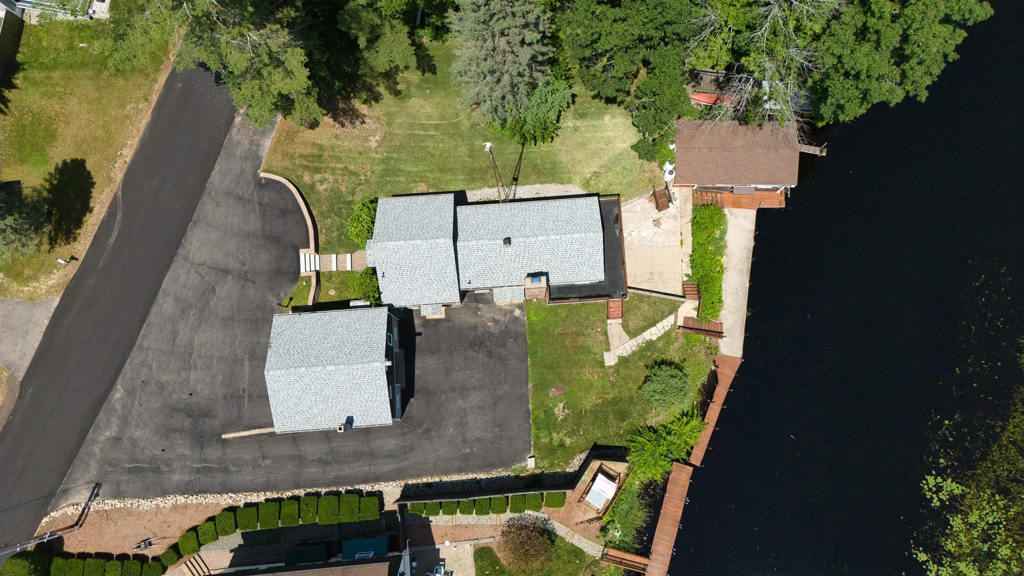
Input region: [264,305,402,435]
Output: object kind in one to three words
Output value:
building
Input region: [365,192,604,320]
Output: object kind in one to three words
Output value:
house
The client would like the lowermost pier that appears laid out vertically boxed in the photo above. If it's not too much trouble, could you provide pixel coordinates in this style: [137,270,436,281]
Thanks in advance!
[646,462,693,576]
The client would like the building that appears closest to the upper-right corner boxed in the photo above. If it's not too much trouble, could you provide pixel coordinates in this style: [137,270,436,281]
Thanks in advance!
[670,119,801,197]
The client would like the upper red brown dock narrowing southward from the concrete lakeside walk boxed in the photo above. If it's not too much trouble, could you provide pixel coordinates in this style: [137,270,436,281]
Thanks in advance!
[689,355,744,468]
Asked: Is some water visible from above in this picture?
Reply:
Yes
